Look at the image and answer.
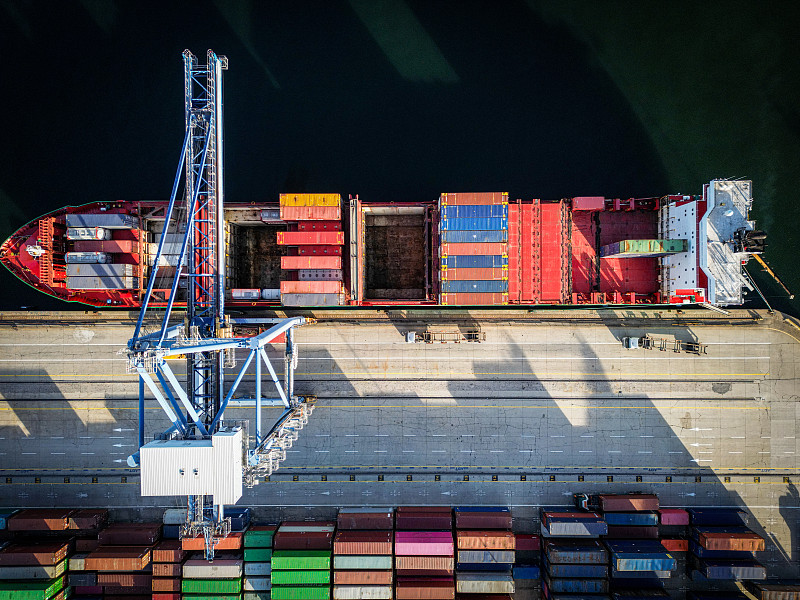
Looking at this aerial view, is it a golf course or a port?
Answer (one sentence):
It's a port.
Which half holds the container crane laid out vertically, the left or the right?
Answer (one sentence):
The container crane laid out vertically is on the left side of the image.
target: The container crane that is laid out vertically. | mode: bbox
[107,46,326,560]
